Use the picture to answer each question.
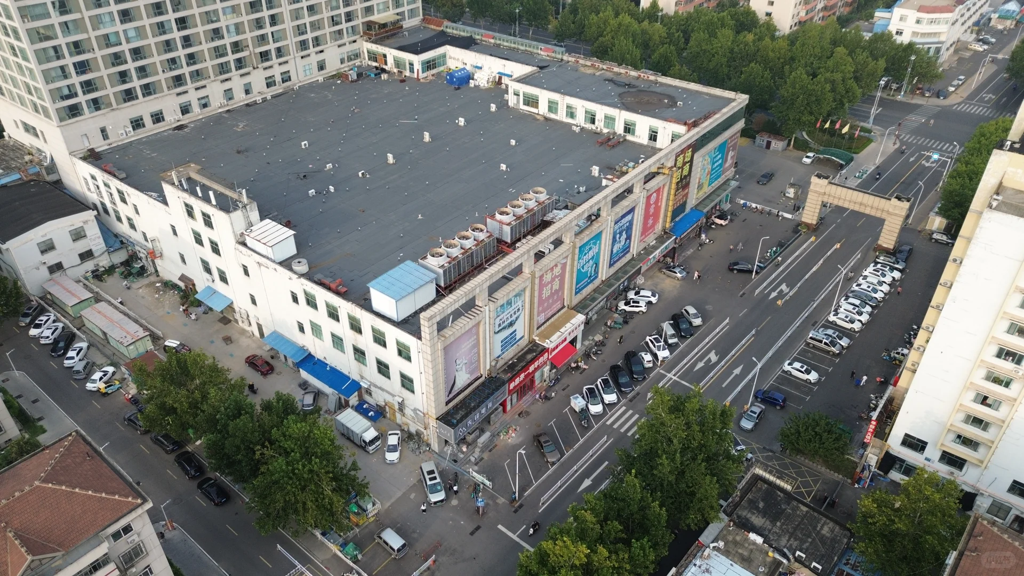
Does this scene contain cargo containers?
Yes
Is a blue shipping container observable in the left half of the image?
No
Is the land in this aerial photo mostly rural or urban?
urban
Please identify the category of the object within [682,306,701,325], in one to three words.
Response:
car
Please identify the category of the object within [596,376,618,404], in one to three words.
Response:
car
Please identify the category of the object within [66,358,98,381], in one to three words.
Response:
vehicle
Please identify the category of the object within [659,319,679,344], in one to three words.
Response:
vehicle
